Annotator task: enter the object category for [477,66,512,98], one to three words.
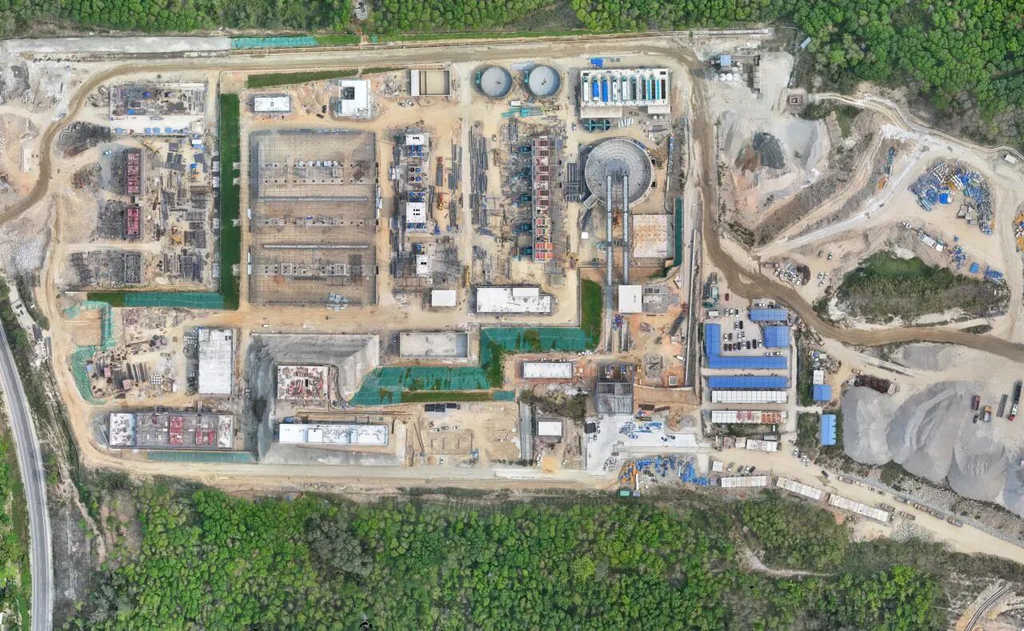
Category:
storage tank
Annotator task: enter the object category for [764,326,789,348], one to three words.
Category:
building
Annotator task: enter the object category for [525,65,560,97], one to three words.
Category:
storage tank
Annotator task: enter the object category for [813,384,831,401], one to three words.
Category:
building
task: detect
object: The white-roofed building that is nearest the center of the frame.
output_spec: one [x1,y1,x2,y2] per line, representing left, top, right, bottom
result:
[476,288,551,312]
